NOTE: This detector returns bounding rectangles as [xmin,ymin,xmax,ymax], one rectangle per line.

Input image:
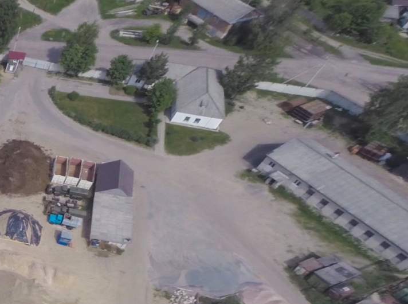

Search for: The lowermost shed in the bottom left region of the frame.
[86,195,134,257]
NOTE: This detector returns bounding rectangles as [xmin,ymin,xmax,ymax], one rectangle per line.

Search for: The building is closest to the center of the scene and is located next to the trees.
[168,65,226,127]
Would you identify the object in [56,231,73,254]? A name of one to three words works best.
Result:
vehicle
